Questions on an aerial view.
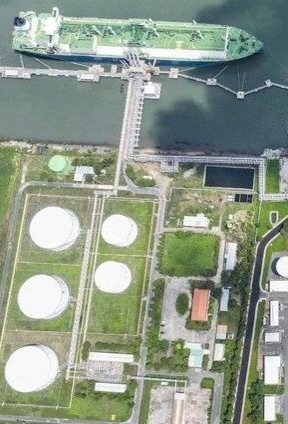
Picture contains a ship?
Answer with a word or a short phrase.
Yes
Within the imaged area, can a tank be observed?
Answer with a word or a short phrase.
Yes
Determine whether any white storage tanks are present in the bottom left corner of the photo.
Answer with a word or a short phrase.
Yes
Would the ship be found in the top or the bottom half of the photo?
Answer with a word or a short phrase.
top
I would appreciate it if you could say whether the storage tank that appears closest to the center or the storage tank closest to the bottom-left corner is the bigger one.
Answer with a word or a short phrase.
the storage tank closest to the bottom-left corner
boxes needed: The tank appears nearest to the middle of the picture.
[101,213,140,249]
